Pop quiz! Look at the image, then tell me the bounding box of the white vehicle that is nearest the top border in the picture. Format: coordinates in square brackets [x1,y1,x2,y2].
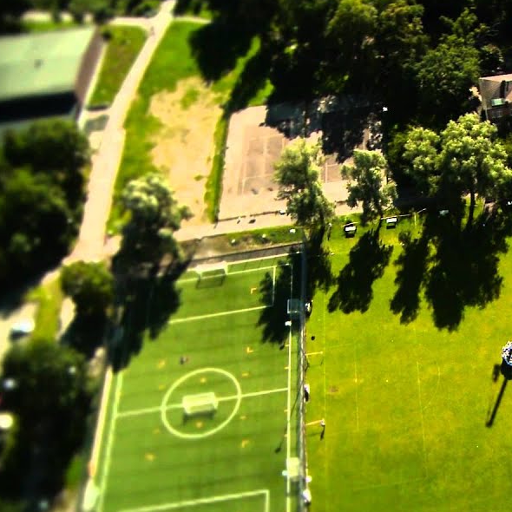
[10,319,36,334]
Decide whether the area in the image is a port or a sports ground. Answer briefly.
sports ground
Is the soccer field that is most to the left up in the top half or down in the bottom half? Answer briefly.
bottom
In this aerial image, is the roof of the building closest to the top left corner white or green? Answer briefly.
green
